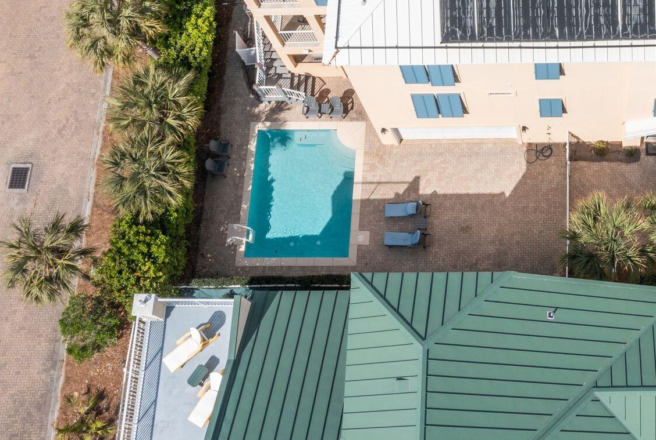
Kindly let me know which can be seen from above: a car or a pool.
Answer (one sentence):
The one in the frame is a pool.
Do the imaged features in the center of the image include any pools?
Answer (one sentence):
Yes, looking in the center of the image, one can make out a pool.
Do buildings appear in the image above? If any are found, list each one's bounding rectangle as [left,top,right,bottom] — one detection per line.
[241,0,656,149]
[120,268,656,440]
